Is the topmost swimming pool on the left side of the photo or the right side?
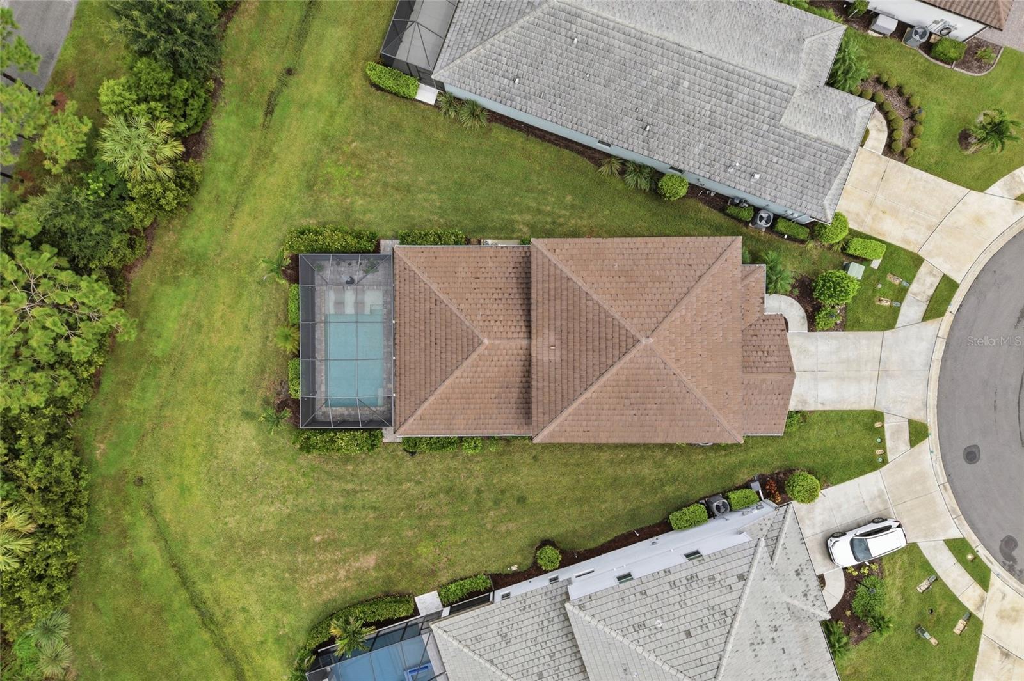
left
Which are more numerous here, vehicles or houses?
houses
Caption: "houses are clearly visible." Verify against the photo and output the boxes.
[392,236,797,445]
[432,0,878,226]
[428,499,842,681]
[846,0,1016,43]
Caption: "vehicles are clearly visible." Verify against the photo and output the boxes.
[825,516,911,568]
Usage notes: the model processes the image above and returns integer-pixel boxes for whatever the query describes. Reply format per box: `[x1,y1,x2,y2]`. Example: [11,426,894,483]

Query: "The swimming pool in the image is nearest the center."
[323,283,386,410]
